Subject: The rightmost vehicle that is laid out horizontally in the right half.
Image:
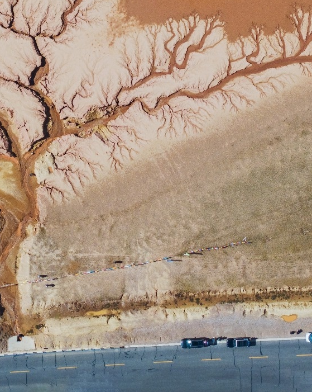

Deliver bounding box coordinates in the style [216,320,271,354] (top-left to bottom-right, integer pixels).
[225,337,252,351]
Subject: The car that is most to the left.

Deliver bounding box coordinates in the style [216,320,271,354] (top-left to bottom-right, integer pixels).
[181,338,207,351]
